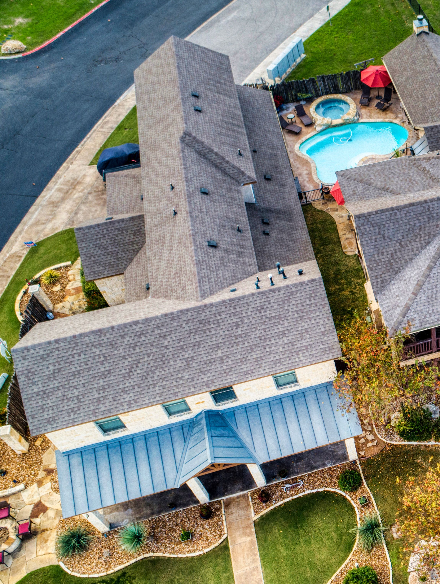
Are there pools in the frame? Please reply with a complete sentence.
Yes, you can see a pool in this photo.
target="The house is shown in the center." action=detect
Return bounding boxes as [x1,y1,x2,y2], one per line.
[9,36,362,536]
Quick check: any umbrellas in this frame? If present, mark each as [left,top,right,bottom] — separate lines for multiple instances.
[360,66,390,100]
[325,178,345,206]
